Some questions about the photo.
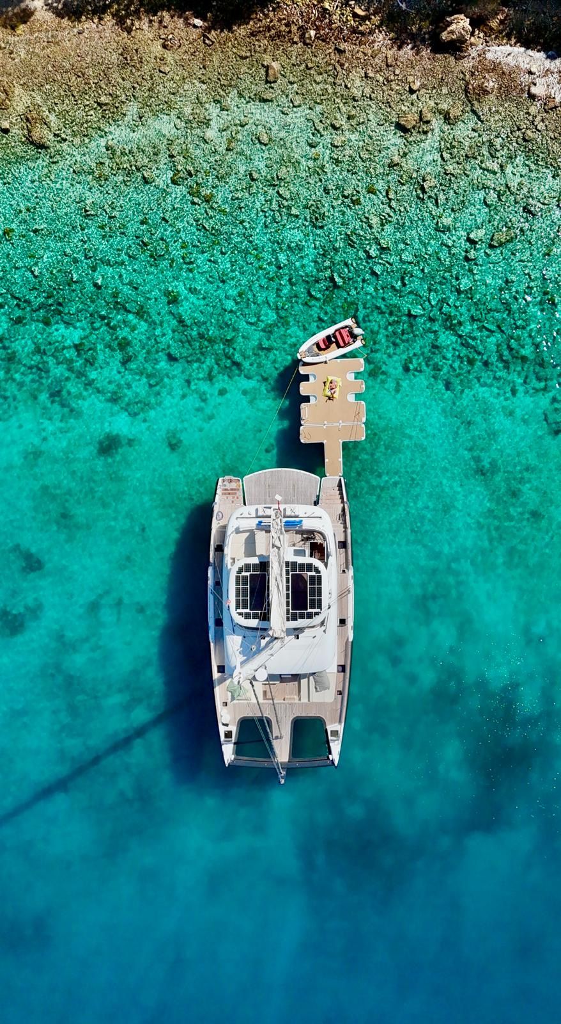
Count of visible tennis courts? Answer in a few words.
zero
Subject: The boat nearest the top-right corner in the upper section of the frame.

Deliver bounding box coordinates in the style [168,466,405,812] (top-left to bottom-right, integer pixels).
[295,319,366,363]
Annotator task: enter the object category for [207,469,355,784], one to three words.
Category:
boat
